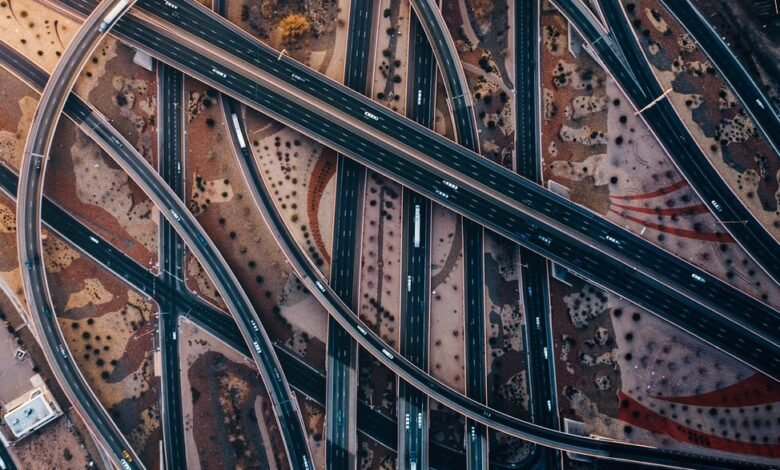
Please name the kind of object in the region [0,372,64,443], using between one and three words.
building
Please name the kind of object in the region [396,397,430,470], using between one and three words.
bridge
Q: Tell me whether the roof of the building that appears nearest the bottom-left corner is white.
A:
Yes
